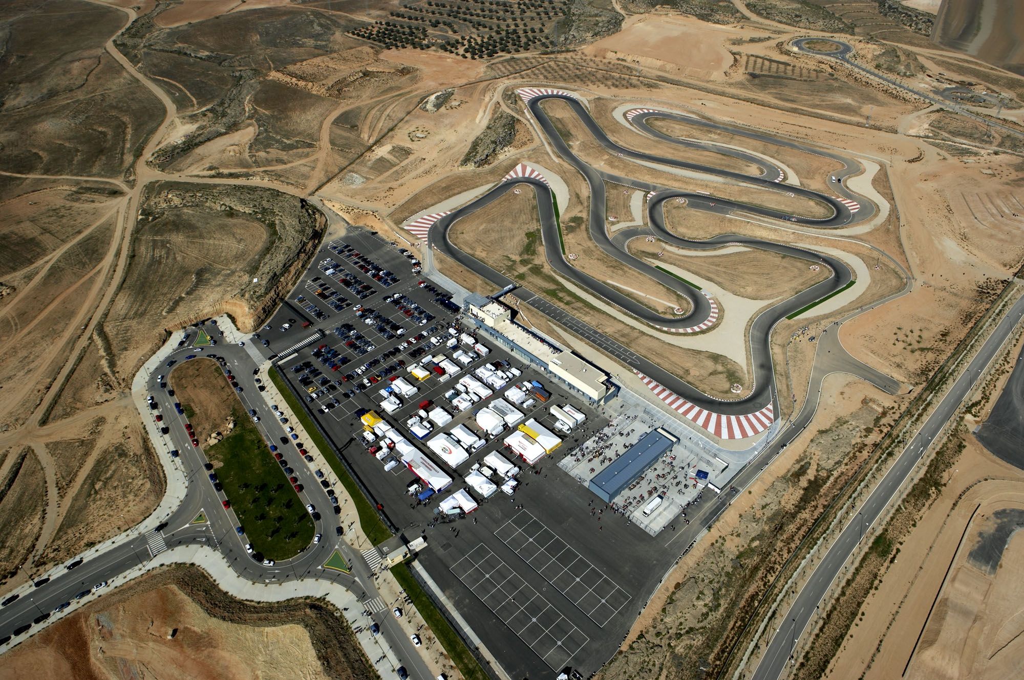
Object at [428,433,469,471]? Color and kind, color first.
white tent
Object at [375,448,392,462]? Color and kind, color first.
white vehicle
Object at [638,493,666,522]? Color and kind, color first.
white truck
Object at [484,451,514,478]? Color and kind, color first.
white tent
